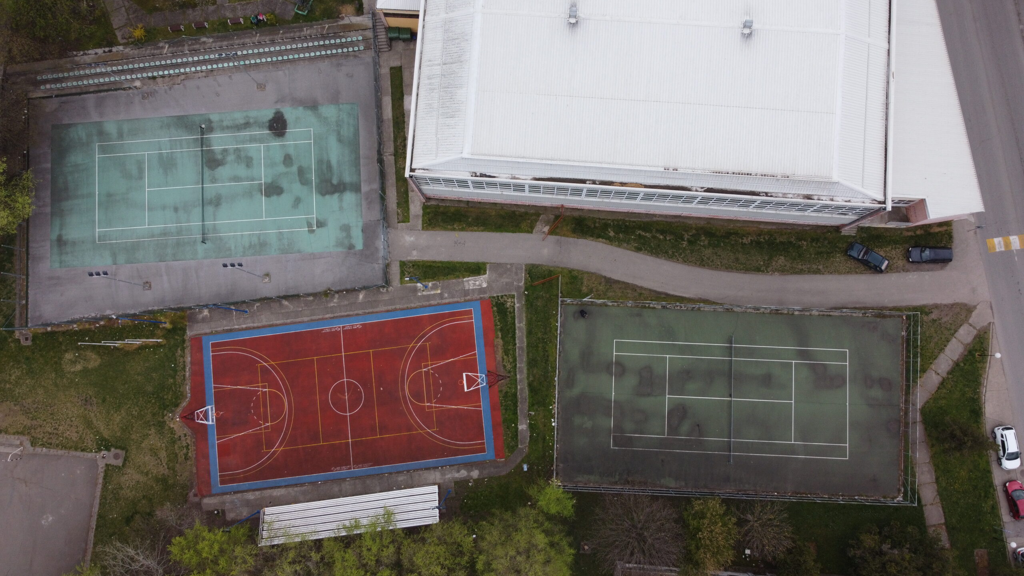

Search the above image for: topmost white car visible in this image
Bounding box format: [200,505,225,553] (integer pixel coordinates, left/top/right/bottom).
[990,423,1022,471]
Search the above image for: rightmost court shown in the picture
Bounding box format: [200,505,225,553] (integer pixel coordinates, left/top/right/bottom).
[555,303,901,497]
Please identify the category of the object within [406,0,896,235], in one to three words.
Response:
building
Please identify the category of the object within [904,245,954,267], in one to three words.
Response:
car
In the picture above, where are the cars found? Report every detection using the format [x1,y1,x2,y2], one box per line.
[1011,546,1024,576]
[990,423,1022,471]
[1001,478,1024,525]
[843,241,891,276]
[904,245,954,267]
